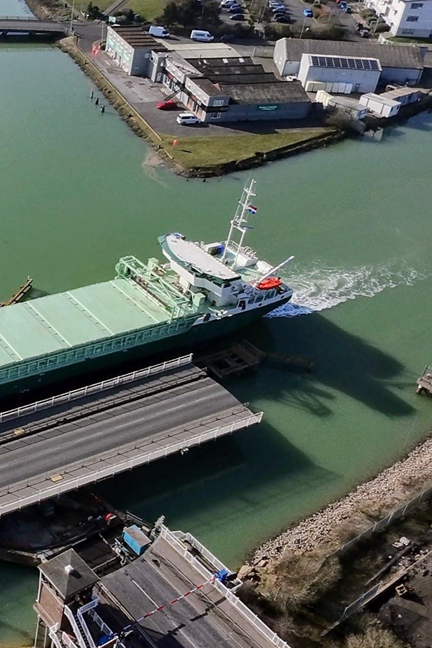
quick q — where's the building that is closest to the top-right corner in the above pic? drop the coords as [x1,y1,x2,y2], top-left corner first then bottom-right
[374,0,432,37]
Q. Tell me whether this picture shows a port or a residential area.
port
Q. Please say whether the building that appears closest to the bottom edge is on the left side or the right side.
left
